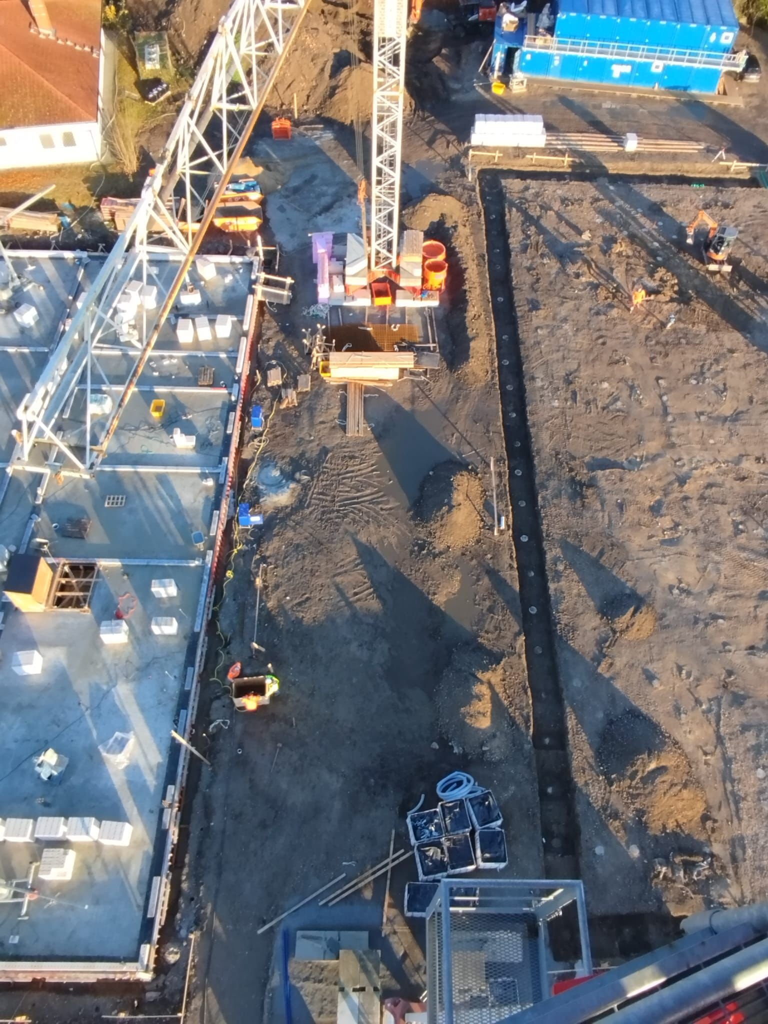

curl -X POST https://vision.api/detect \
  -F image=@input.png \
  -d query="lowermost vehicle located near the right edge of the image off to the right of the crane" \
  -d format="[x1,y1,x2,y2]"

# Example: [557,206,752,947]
[681,222,738,279]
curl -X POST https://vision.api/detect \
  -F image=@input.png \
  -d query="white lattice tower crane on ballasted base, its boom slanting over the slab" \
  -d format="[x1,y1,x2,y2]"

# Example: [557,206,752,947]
[7,0,430,507]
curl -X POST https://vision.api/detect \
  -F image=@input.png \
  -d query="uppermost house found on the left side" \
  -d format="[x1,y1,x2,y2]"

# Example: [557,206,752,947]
[0,7,100,170]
